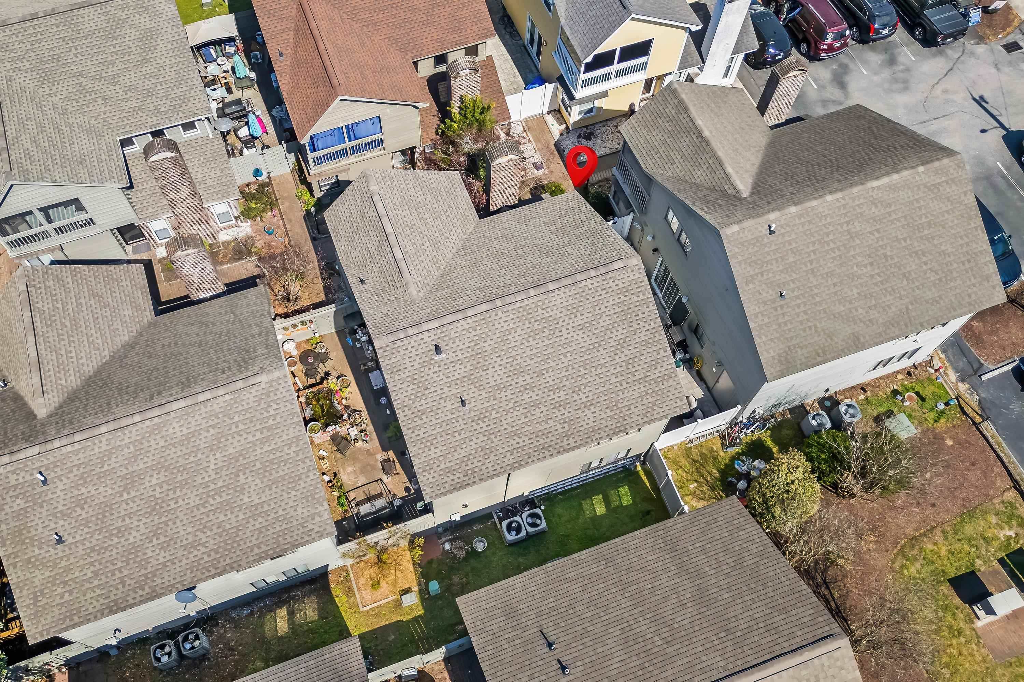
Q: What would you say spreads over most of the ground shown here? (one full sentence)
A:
The scene is dominated by buildings.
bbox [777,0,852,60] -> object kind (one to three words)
car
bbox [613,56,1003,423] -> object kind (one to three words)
house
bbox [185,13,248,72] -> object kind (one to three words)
tent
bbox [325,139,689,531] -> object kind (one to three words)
house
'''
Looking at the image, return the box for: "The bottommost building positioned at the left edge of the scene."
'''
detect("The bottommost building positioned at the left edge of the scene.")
[0,228,347,645]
